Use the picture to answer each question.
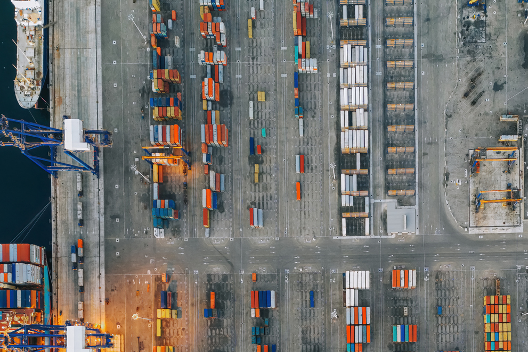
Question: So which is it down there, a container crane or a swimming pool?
container crane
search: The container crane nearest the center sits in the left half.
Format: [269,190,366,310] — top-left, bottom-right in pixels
[140,143,189,169]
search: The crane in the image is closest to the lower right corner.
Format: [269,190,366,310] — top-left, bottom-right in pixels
[477,186,523,213]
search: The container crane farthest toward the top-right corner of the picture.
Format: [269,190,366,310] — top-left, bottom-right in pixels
[473,145,519,171]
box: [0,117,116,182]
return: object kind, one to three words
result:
container crane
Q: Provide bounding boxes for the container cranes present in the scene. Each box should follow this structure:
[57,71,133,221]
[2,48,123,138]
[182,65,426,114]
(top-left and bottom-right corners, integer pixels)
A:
[477,186,523,213]
[140,143,189,169]
[473,145,519,171]
[0,117,116,182]
[0,322,118,352]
